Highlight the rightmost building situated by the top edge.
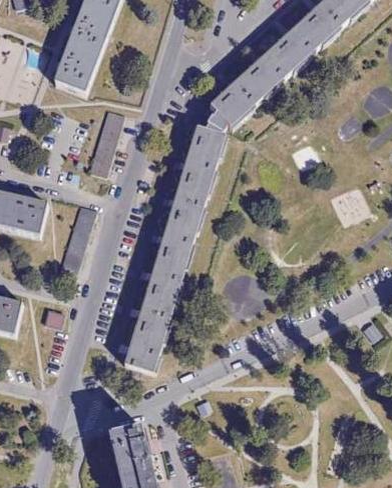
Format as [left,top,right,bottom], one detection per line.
[211,0,379,135]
